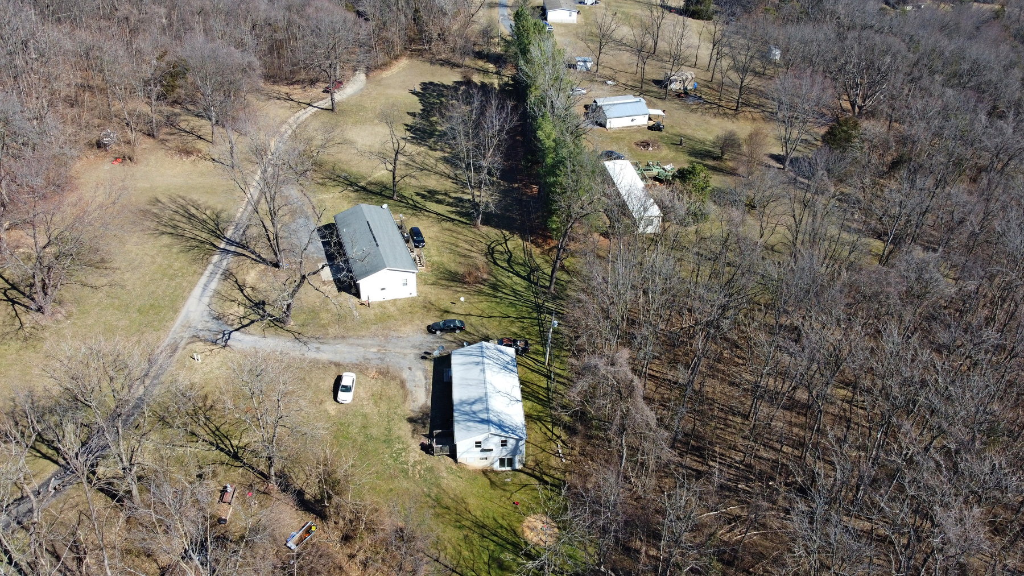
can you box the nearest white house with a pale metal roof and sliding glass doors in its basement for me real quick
[452,343,528,467]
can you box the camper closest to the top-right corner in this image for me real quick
[670,74,694,90]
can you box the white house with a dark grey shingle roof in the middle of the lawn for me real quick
[334,203,419,298]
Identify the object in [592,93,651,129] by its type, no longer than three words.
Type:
barn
